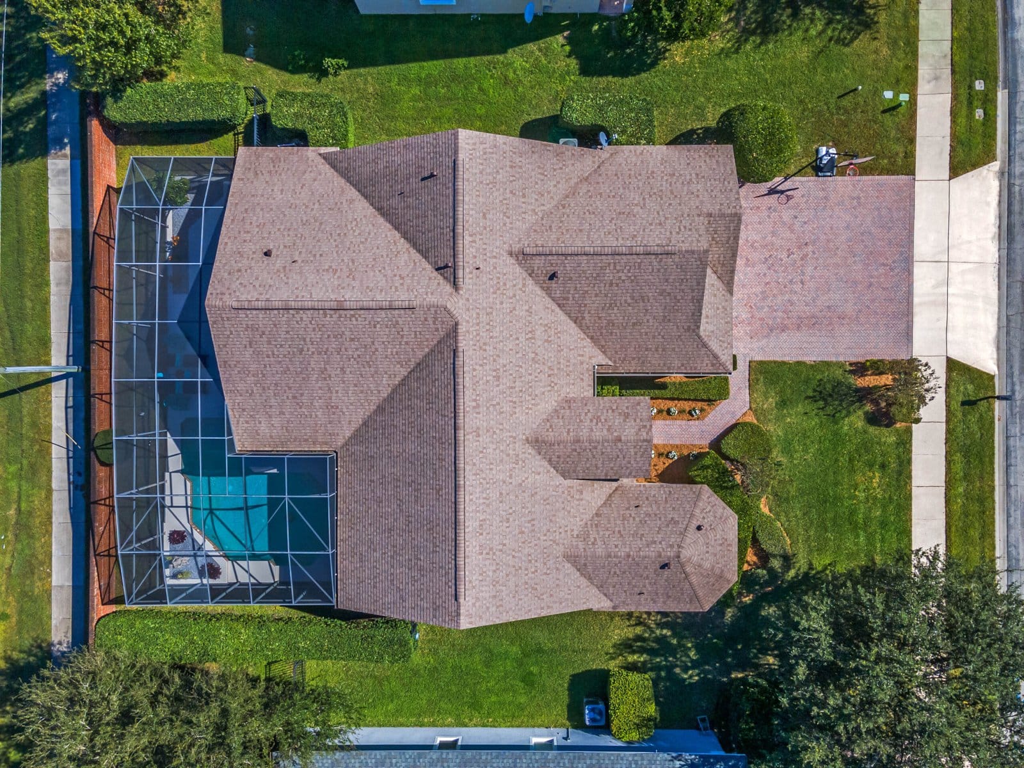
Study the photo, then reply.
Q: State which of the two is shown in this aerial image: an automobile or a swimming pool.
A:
swimming pool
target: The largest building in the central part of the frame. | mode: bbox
[205,127,743,629]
